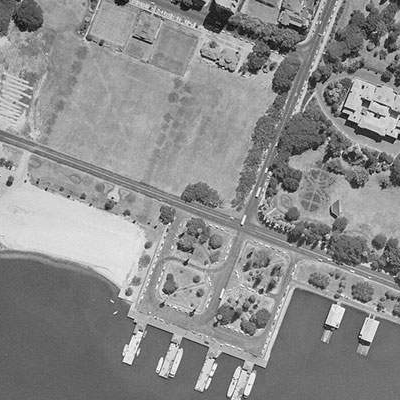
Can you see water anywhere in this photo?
Yes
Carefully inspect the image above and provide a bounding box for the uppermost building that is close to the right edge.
[341,79,400,140]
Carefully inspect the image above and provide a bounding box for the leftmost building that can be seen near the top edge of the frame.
[134,12,159,42]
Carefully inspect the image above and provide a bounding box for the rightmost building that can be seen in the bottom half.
[356,312,379,357]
